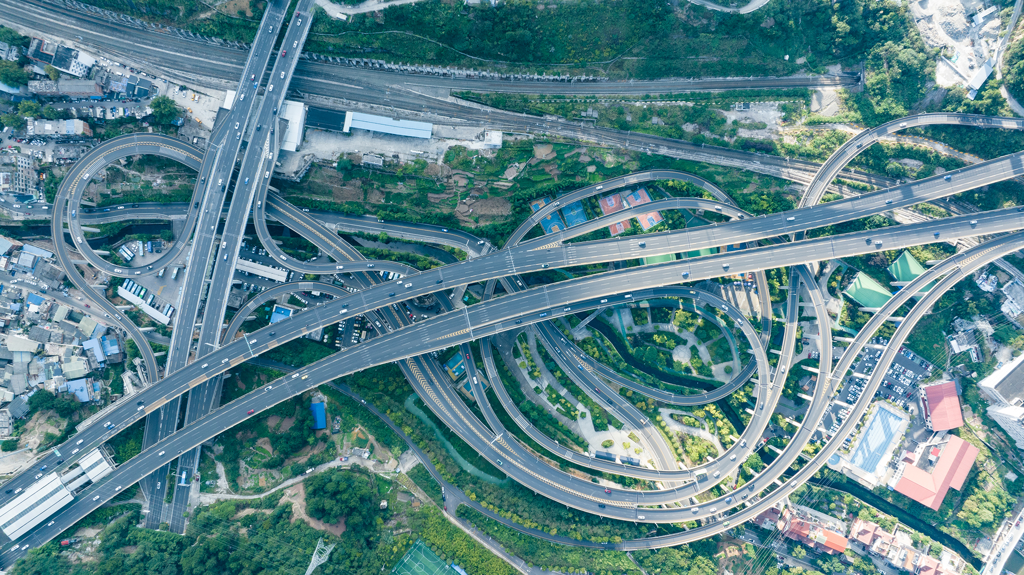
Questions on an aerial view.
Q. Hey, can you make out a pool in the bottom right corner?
Yes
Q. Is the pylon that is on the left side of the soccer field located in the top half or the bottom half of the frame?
bottom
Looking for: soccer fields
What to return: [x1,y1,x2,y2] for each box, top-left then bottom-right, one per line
[391,540,458,575]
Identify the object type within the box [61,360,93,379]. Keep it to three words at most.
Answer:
house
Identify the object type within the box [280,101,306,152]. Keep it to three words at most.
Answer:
shed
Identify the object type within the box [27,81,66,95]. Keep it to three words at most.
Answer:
house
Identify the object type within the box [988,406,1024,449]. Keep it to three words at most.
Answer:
building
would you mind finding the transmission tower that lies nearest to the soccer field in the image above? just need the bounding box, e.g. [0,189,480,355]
[303,541,332,575]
